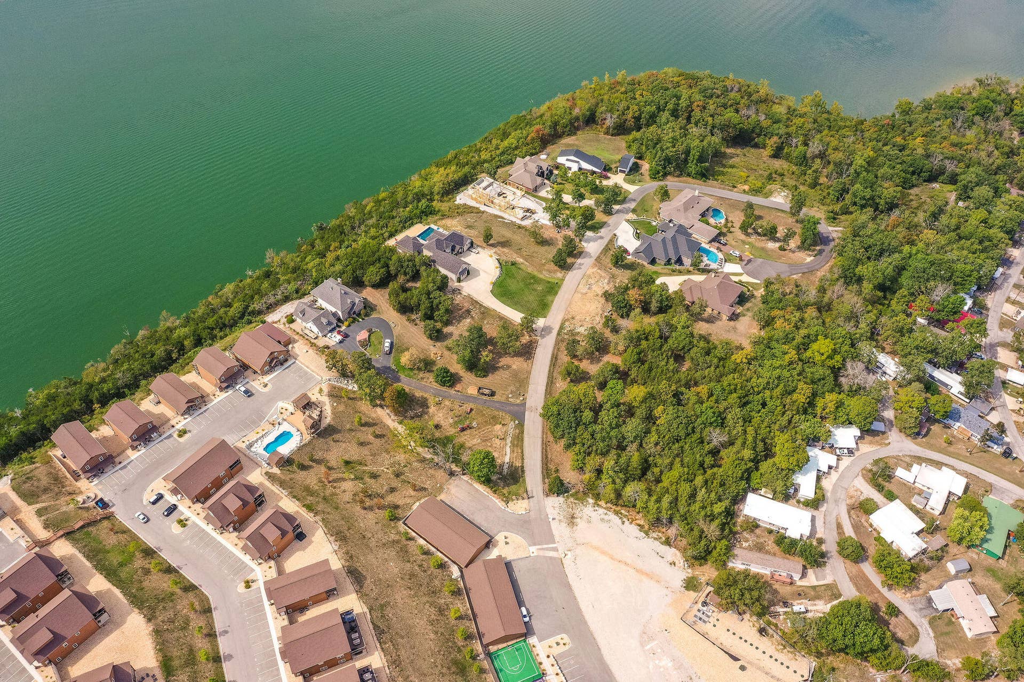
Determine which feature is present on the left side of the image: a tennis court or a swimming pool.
swimming pool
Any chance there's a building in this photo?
Yes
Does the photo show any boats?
No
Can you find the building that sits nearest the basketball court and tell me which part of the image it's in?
bottom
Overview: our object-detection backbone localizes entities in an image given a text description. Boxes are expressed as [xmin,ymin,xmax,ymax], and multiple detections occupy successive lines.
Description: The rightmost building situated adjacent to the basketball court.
[463,556,526,648]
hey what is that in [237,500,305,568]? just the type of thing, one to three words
building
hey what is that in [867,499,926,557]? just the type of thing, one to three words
house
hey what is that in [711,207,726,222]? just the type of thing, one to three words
swimming pool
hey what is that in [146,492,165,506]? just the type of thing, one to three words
car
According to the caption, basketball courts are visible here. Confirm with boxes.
[490,639,542,682]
